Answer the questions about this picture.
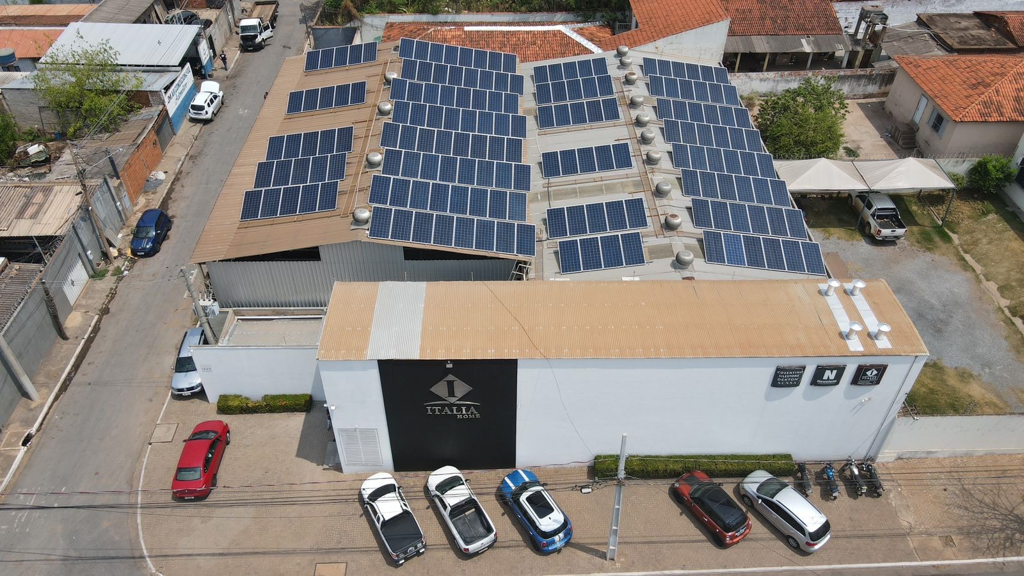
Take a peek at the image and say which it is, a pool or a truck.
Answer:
truck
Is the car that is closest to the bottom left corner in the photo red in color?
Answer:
Yes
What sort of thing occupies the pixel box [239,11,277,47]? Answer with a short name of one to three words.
truck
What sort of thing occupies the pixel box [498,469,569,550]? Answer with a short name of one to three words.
car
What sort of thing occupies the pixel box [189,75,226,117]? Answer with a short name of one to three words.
car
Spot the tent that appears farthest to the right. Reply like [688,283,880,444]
[853,159,958,228]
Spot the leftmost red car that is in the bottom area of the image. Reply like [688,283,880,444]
[168,414,228,496]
